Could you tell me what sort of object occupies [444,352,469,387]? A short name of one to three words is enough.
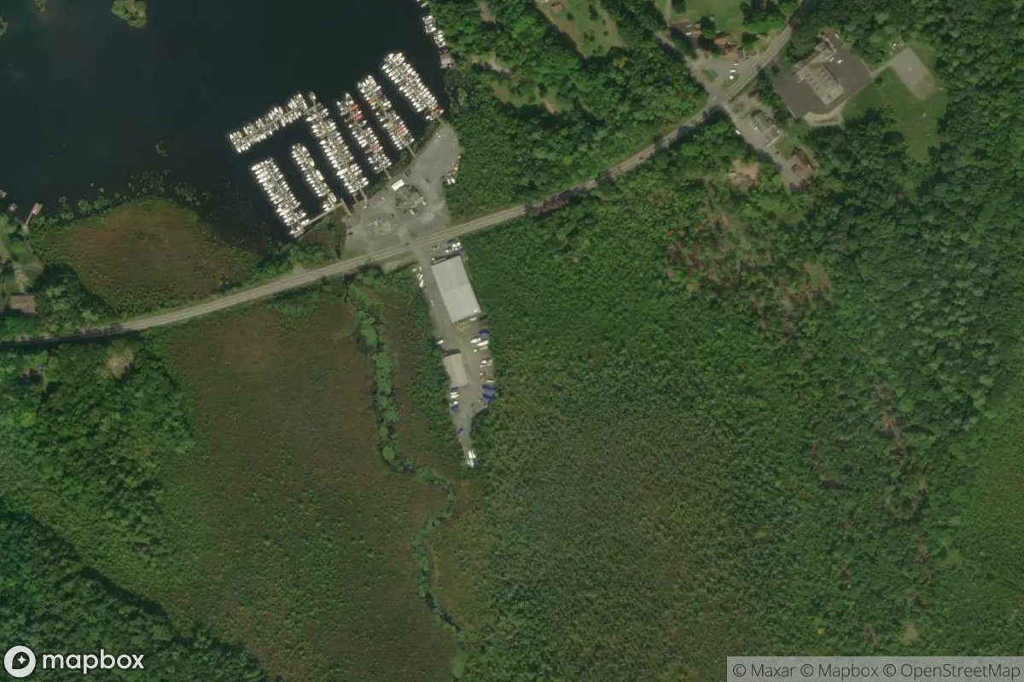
shed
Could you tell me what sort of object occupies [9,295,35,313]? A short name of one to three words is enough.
house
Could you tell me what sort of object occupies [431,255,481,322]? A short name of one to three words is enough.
building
